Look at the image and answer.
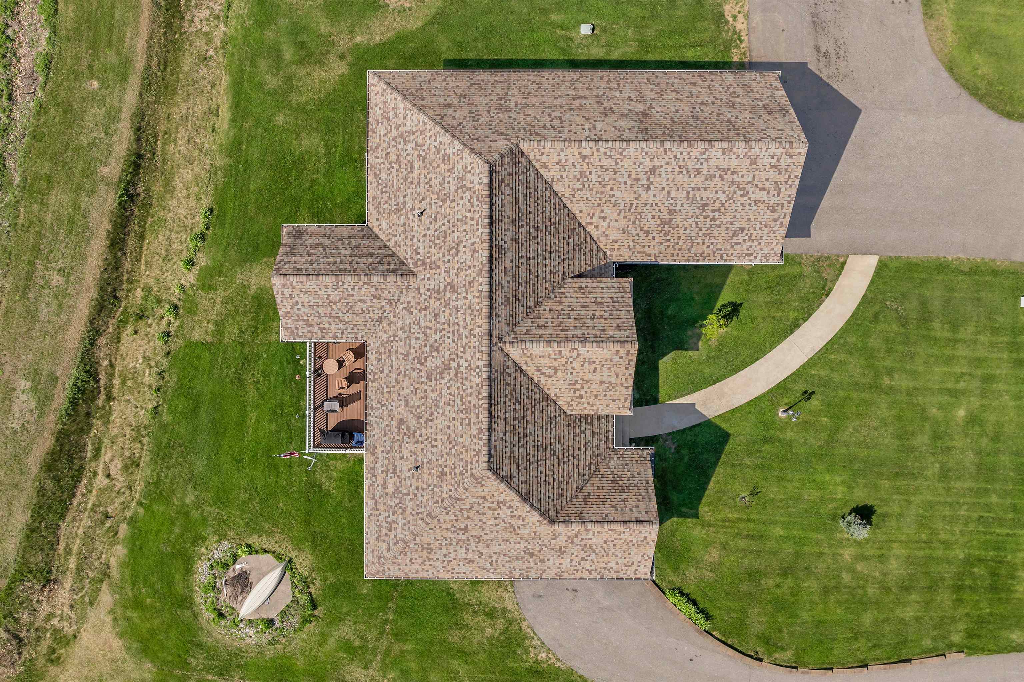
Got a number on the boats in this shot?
1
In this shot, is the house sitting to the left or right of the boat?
on its right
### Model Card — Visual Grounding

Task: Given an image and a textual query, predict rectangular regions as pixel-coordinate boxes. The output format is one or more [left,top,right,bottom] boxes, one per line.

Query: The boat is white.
[238,561,287,620]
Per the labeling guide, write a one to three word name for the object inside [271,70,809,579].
house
